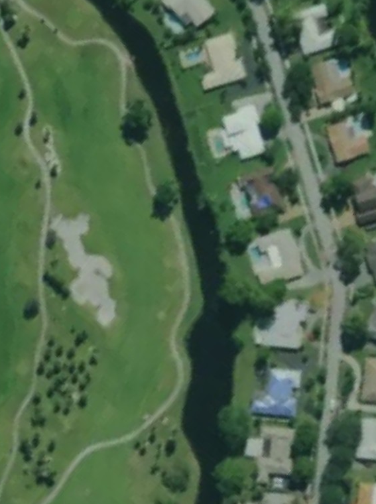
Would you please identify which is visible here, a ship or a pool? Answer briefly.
pool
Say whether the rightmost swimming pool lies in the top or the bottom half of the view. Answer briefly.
top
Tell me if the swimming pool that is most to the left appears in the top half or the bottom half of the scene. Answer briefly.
top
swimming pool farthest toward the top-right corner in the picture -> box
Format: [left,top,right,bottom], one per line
[329,59,351,78]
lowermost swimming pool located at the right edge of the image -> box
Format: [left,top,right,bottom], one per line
[348,116,373,137]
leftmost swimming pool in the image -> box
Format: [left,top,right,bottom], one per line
[164,10,184,34]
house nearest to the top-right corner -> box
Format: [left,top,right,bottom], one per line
[295,0,336,56]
